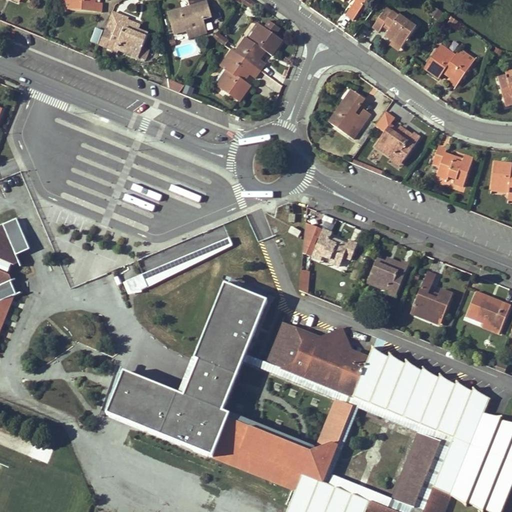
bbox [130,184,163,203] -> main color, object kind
white vehicle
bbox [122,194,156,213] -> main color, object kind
white vehicle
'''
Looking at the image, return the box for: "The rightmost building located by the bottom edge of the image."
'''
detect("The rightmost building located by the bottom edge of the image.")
[450,412,512,512]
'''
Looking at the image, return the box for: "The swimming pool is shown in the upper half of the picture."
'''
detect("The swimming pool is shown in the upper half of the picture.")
[173,40,201,60]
